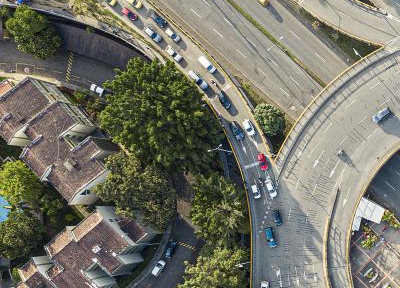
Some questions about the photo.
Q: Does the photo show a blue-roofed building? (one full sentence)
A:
No, no blue-roofed building is visible in the scene.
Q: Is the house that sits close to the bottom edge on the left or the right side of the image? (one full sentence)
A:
The house that sits close to the bottom edge sits on the left side.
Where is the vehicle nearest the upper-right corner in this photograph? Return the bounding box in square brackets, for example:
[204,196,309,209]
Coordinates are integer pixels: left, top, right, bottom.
[372,106,392,124]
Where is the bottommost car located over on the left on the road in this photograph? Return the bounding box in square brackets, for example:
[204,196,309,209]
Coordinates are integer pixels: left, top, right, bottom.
[151,258,168,278]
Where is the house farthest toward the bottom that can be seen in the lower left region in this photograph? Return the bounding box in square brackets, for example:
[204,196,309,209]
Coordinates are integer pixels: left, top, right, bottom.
[16,209,163,288]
